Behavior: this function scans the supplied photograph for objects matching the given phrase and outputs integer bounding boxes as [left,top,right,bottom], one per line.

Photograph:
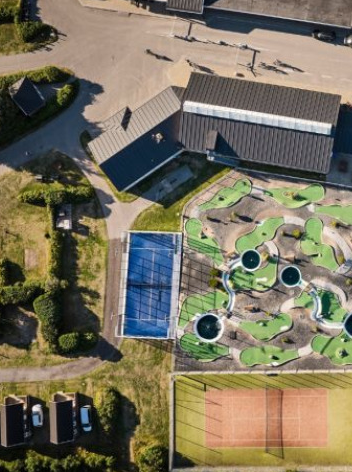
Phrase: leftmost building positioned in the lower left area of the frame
[0,391,35,448]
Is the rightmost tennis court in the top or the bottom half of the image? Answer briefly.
bottom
